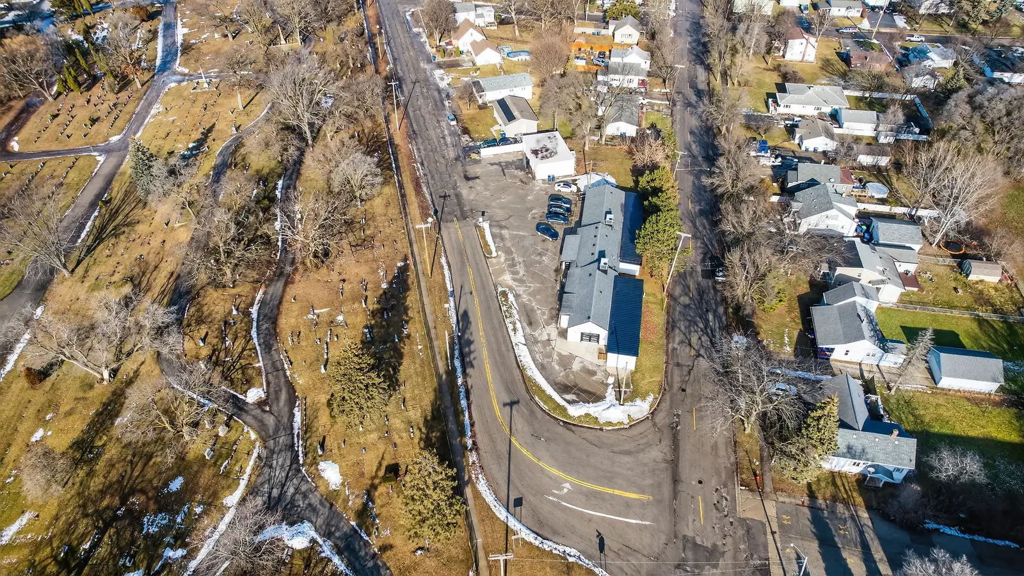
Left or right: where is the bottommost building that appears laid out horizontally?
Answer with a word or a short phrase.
right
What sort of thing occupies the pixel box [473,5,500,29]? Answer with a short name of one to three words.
house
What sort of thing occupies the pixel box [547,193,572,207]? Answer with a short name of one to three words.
car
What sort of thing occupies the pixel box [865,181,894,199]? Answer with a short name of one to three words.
swimming pool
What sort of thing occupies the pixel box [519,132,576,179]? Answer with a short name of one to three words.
building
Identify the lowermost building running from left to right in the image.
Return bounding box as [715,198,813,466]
[925,349,1014,393]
